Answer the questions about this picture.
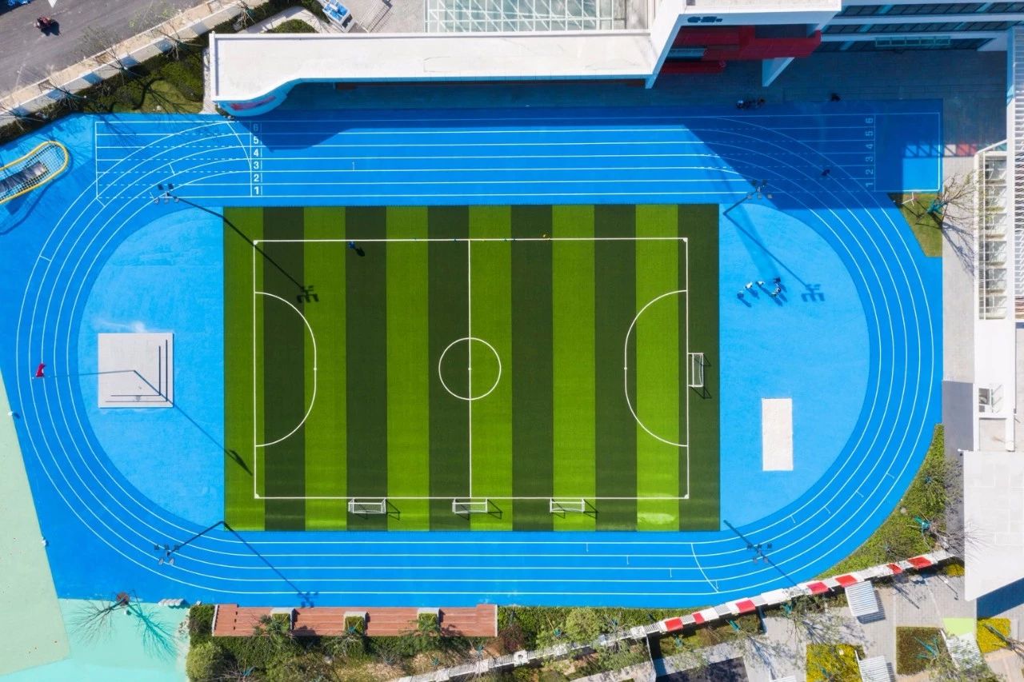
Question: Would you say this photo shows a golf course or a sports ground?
sports ground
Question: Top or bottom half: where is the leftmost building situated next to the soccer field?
top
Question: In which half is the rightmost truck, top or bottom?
top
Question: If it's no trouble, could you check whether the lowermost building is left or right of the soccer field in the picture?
right of it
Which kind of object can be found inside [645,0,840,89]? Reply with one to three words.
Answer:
building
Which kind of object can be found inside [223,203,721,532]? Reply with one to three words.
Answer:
soccer field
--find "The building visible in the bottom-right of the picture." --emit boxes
[960,449,1024,601]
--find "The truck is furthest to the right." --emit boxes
[311,0,357,32]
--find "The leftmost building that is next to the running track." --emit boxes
[210,32,658,115]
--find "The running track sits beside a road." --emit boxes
[0,100,943,609]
